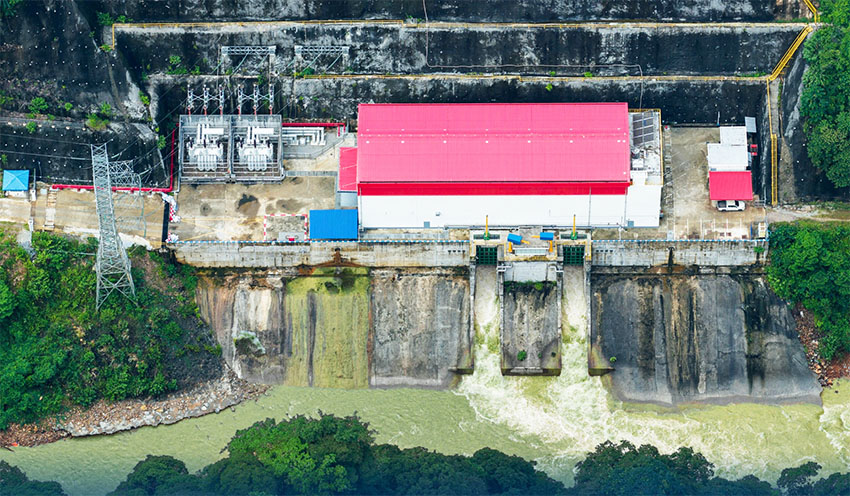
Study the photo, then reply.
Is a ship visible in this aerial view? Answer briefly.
No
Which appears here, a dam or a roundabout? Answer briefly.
dam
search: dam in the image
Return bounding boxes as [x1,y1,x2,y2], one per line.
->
[173,229,822,406]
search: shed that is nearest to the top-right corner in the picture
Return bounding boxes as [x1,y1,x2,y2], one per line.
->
[706,125,750,171]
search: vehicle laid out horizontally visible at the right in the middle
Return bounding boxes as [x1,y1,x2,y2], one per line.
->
[716,201,745,213]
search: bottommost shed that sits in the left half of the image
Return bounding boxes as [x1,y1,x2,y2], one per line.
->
[310,209,357,241]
